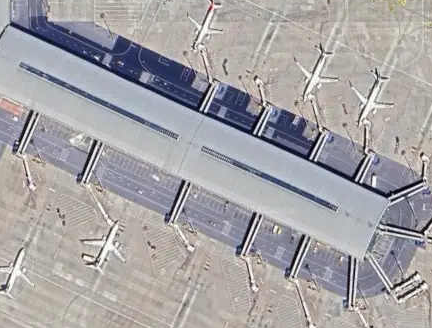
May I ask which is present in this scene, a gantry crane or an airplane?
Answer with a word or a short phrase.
airplane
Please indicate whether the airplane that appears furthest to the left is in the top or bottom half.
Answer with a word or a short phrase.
bottom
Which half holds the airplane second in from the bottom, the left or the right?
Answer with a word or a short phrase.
left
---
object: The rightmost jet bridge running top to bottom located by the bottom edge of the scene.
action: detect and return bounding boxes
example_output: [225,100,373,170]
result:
[342,255,373,328]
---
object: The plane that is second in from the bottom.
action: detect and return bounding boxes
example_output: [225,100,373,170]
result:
[80,222,126,272]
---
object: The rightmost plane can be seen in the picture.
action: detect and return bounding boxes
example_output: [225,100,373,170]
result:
[346,71,398,126]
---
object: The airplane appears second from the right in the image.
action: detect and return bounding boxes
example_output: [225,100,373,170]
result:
[292,46,341,100]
